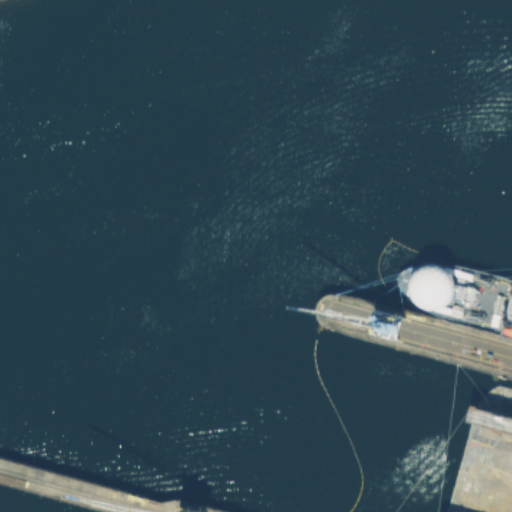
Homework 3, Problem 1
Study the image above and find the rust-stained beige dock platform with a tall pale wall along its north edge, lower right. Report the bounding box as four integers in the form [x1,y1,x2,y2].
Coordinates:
[454,408,512,512]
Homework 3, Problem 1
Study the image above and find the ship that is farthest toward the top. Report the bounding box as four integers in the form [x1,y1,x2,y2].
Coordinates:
[398,263,512,338]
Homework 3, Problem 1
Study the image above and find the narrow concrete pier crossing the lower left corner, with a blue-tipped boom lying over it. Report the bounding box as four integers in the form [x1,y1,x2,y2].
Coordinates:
[0,460,207,512]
